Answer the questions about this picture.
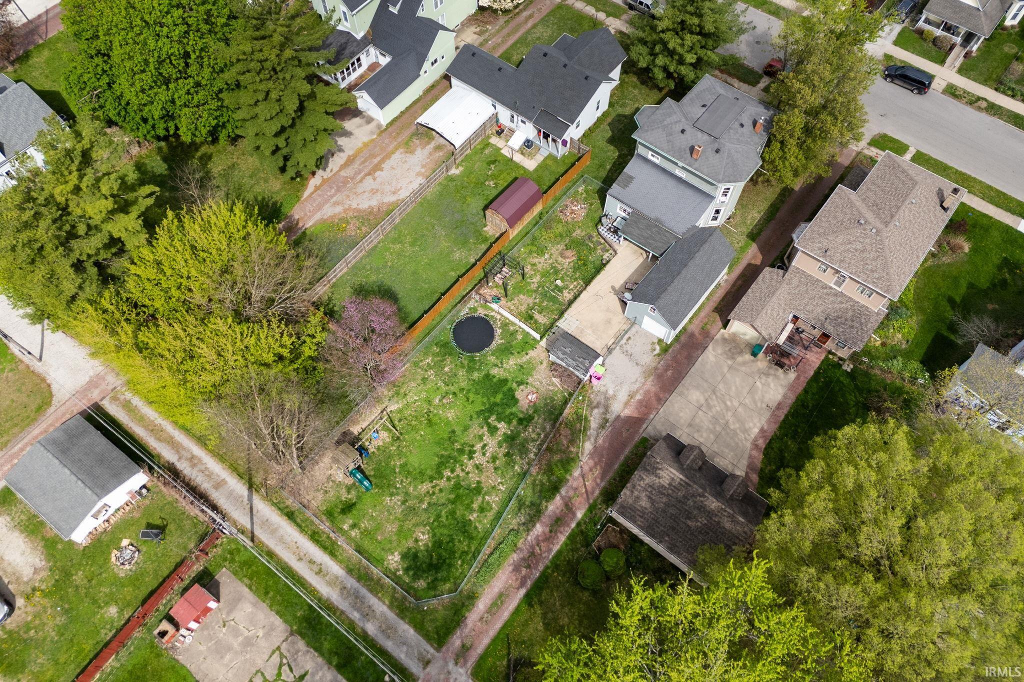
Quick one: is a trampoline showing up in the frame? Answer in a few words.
Yes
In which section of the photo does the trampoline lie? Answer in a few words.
center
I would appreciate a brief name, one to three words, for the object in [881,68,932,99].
car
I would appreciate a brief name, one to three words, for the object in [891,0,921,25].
car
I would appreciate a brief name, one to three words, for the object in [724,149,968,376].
house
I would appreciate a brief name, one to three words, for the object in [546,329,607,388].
shed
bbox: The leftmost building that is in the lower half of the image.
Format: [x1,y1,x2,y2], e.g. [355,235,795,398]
[3,415,148,545]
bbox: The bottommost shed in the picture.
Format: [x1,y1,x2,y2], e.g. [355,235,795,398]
[170,581,227,635]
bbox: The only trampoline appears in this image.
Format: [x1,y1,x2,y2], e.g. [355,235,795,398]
[451,315,496,358]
